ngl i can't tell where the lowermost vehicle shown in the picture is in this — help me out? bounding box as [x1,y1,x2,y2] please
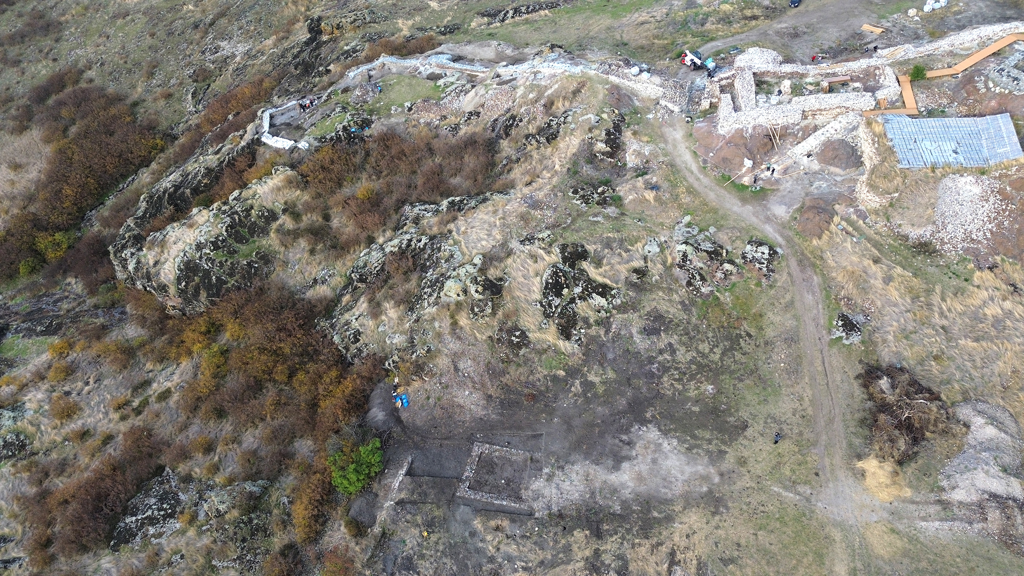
[677,48,717,77]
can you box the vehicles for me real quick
[791,0,803,8]
[677,48,717,77]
